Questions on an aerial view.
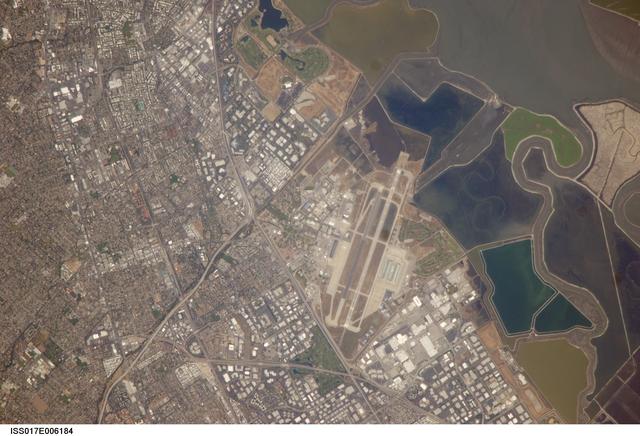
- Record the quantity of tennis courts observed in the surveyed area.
0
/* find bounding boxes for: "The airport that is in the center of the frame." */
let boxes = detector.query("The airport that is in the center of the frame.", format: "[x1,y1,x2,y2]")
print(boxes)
[318,151,416,334]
